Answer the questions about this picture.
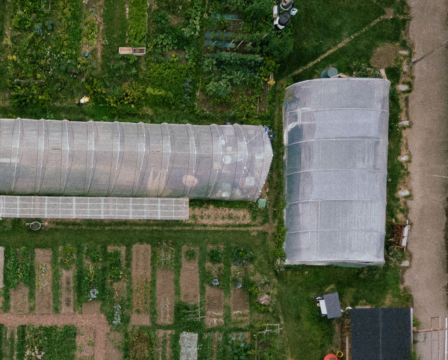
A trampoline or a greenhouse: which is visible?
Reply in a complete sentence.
Looking from above, you can make out a greenhouse.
